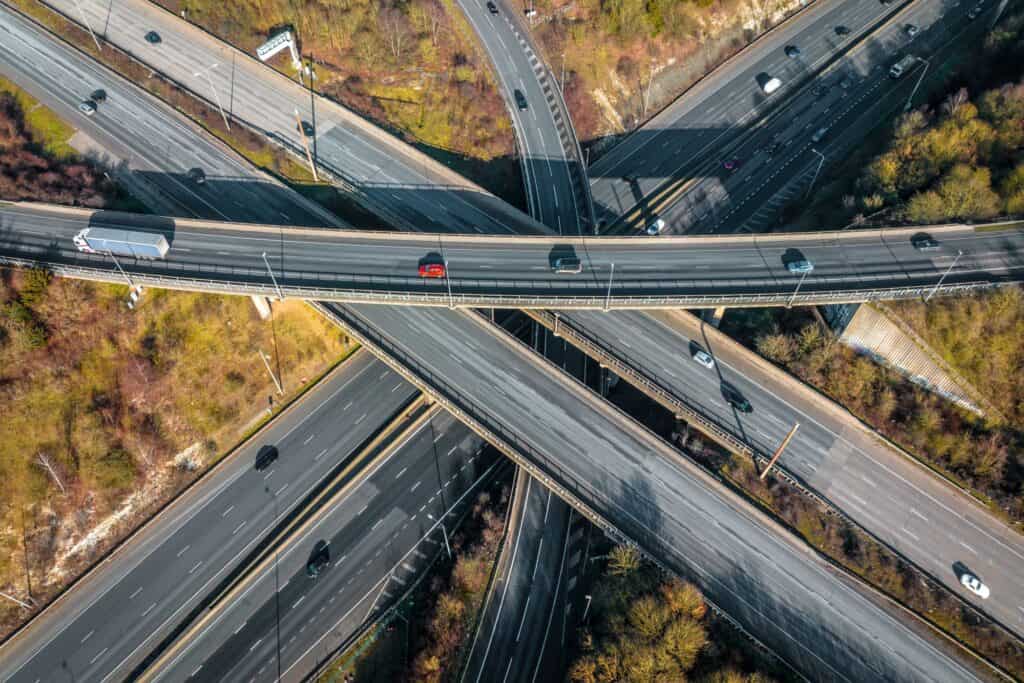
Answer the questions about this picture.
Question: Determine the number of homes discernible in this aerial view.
0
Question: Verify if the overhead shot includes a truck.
Yes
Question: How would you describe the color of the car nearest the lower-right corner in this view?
white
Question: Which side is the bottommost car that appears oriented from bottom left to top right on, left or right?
left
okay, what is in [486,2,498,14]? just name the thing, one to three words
vehicle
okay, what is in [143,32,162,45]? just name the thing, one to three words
vehicle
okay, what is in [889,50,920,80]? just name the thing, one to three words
truck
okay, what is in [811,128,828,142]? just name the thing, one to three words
car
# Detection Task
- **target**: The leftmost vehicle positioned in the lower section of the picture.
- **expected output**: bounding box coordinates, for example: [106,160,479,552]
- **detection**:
[252,447,279,472]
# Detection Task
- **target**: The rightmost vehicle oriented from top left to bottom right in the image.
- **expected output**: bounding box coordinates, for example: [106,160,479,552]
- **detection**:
[957,571,992,601]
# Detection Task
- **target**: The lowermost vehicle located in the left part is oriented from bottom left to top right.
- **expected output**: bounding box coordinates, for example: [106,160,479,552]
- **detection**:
[304,548,331,576]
